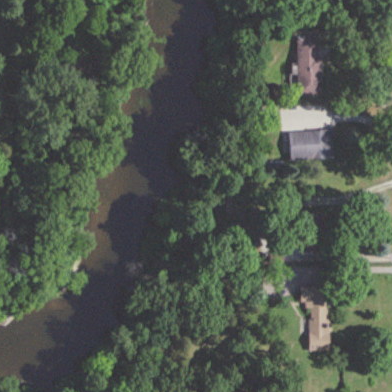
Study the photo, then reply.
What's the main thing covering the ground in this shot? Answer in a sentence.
Most of the picture is covered by trees.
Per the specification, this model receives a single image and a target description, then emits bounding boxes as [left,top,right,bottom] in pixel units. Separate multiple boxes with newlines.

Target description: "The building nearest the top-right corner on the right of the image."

[290,35,323,94]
